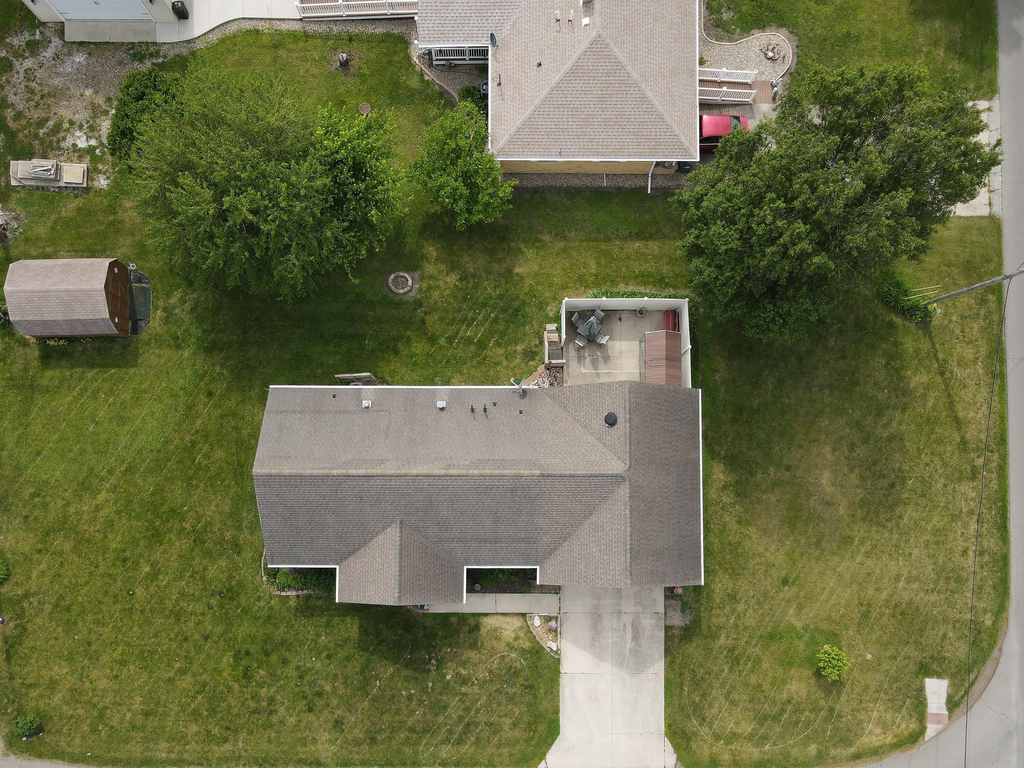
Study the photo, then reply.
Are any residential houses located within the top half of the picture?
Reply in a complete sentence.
Yes, a residential house appears within the top half of the picture.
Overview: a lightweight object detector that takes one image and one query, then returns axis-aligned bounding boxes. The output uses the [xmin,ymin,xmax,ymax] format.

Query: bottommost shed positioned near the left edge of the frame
[6,259,132,338]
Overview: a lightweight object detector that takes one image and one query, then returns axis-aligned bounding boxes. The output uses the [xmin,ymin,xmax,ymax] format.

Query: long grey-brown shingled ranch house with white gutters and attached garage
[253,382,705,605]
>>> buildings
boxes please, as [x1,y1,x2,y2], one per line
[6,259,132,338]
[22,0,178,24]
[253,382,705,605]
[417,0,702,193]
